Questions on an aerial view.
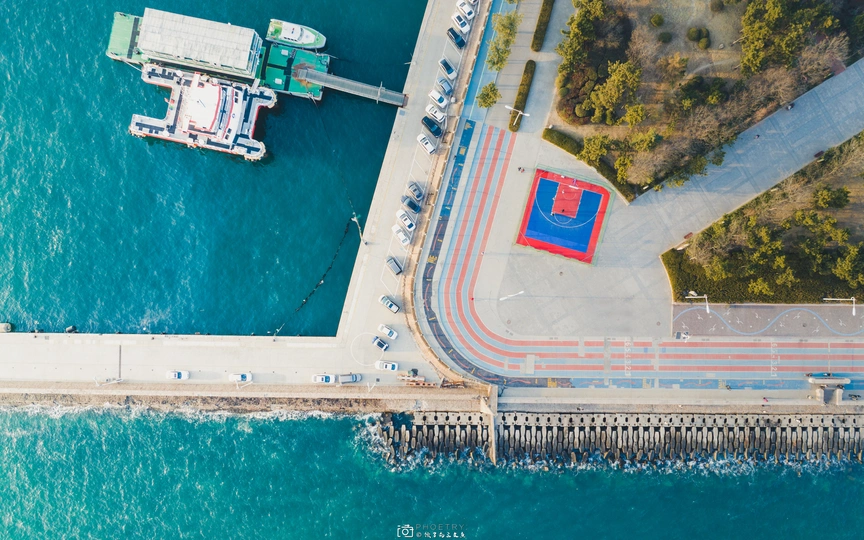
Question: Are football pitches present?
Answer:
No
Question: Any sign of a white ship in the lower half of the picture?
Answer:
No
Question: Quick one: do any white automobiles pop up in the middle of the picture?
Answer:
Yes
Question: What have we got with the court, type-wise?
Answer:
basketball court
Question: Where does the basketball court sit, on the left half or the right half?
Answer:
right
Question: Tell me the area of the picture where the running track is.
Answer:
right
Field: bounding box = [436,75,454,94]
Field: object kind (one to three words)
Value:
car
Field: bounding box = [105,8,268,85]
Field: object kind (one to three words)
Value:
ship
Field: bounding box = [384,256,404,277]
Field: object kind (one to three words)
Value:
vehicle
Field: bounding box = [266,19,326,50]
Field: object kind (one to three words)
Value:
boat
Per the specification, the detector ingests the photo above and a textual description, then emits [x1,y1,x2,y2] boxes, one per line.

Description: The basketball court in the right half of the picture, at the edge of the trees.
[516,168,608,265]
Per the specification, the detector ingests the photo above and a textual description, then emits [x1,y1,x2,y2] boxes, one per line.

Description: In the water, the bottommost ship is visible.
[127,62,278,163]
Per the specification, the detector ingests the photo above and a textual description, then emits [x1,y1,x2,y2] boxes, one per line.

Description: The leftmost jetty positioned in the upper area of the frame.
[265,43,335,108]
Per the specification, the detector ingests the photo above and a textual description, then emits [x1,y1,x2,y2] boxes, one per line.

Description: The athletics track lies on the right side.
[440,123,864,378]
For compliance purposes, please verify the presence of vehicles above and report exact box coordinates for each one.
[229,373,251,383]
[338,375,362,384]
[391,224,410,245]
[426,103,445,122]
[438,57,457,79]
[451,11,471,32]
[396,210,415,230]
[370,336,390,353]
[429,88,449,108]
[416,133,435,154]
[446,26,466,48]
[384,256,404,277]
[166,370,189,381]
[436,75,454,94]
[377,323,398,340]
[407,180,424,201]
[401,194,421,214]
[456,0,476,19]
[379,295,399,314]
[422,116,442,137]
[312,375,334,384]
